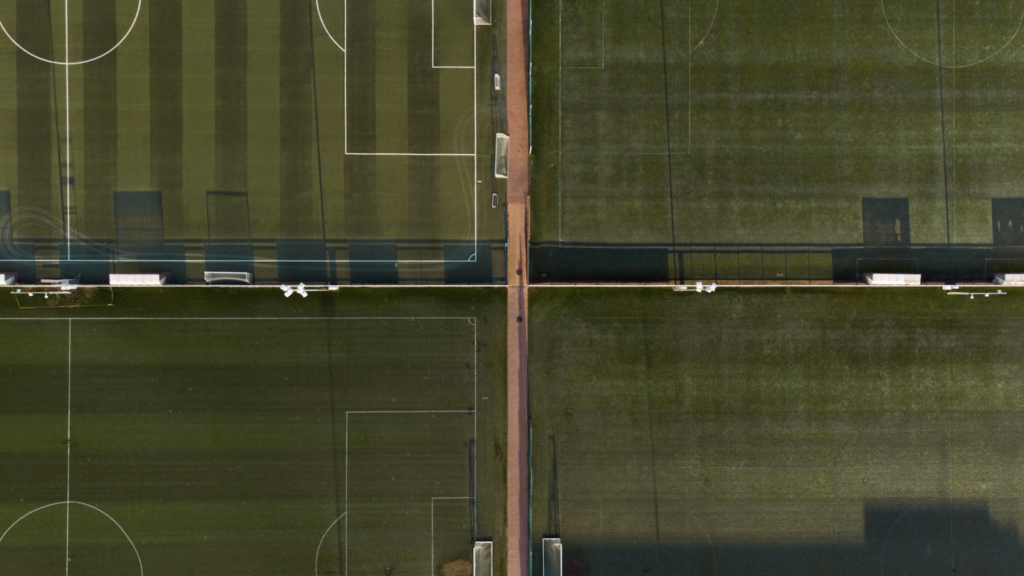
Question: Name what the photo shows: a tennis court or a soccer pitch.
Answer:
soccer pitch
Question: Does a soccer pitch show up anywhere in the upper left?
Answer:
Yes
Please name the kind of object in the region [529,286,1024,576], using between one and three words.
soccer field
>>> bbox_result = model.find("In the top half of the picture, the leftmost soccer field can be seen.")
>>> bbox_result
[0,0,507,285]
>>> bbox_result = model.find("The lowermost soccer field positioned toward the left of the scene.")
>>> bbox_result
[0,285,508,576]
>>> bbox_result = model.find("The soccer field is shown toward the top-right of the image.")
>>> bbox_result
[529,0,1024,284]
